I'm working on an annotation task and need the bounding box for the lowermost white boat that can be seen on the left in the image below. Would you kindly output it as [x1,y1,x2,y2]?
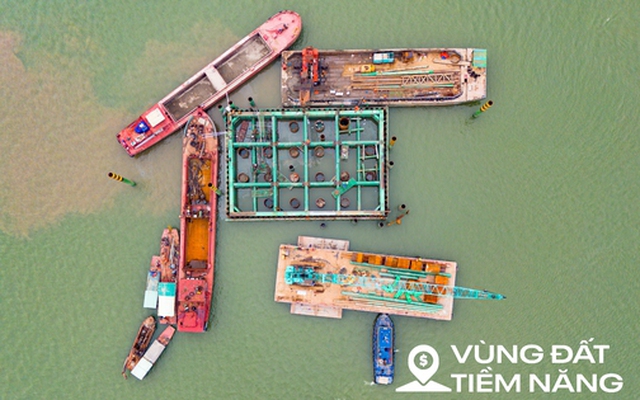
[131,324,176,381]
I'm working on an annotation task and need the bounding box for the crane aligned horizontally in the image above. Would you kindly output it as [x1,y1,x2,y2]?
[284,261,505,300]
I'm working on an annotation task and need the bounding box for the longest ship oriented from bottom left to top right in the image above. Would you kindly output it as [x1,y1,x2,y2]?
[116,14,303,155]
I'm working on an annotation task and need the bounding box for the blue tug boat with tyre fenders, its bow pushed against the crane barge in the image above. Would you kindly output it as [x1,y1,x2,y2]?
[371,313,396,386]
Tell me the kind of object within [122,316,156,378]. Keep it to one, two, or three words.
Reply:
boat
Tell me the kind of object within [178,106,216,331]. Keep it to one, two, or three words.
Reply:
ship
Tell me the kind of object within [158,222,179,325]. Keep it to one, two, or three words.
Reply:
boat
